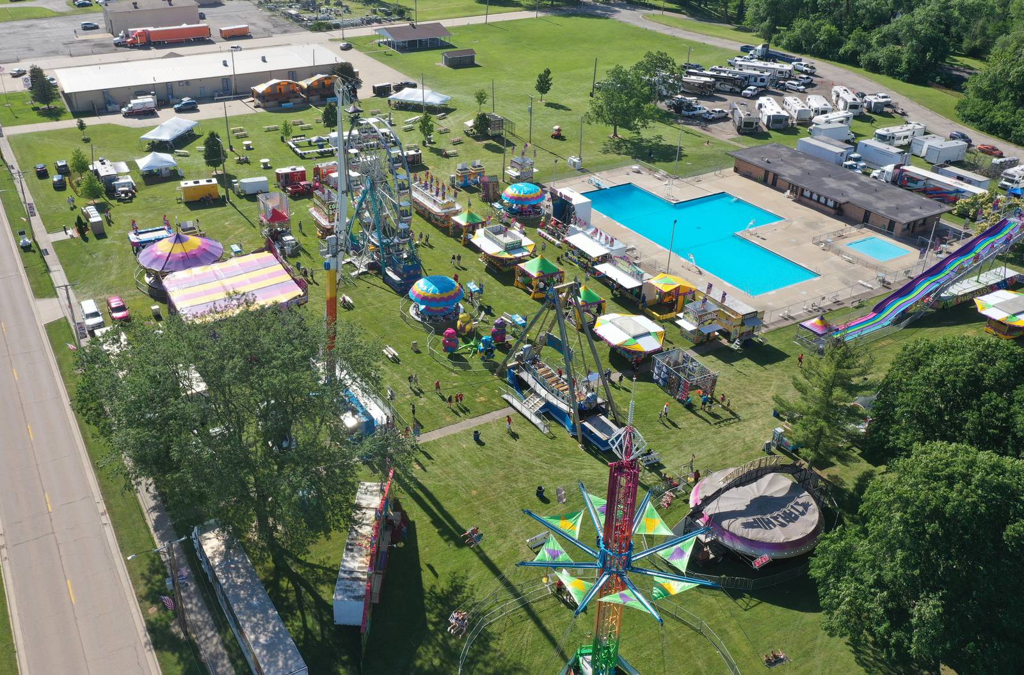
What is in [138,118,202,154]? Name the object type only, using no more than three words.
tent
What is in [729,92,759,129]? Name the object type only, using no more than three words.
vehicle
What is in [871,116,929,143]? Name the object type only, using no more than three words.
camper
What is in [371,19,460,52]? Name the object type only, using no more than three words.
building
